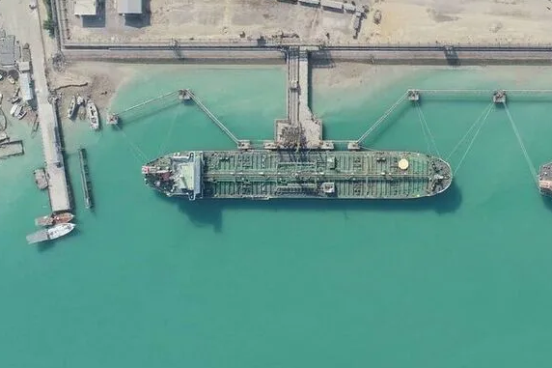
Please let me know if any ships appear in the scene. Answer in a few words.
Yes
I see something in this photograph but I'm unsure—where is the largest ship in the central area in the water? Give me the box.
[141,149,454,200]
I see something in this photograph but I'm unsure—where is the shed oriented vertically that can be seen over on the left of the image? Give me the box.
[20,72,37,100]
